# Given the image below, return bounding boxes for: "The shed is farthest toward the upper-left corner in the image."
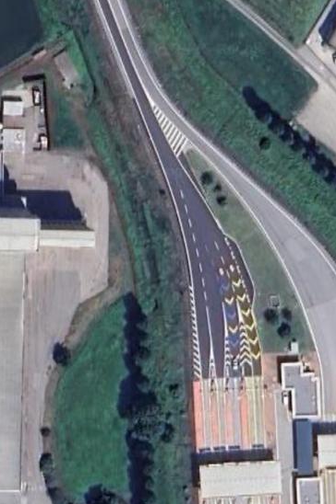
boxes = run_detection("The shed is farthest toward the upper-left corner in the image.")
[3,100,24,115]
